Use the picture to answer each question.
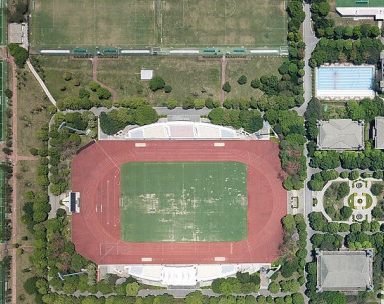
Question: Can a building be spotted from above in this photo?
Yes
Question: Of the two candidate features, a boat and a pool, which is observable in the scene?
pool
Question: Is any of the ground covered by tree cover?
Yes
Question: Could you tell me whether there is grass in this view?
Yes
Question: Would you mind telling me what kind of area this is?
sports ground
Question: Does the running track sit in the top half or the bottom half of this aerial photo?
bottom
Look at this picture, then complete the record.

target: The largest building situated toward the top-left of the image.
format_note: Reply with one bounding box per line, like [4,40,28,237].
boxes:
[9,23,30,47]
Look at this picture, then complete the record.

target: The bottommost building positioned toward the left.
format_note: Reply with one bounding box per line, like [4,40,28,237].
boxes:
[63,192,83,213]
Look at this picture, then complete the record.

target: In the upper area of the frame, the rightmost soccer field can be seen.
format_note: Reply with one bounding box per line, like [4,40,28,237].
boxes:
[156,0,288,48]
